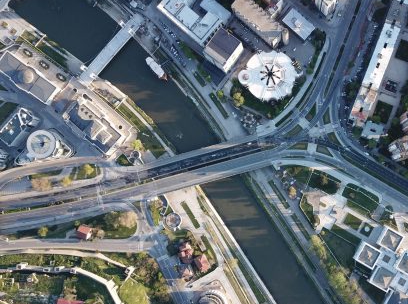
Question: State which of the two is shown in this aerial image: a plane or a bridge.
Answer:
bridge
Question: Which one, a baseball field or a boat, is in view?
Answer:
boat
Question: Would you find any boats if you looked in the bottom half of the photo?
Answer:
No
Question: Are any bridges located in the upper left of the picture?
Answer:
Yes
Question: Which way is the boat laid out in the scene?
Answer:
diagonally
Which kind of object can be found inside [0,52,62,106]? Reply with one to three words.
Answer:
building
